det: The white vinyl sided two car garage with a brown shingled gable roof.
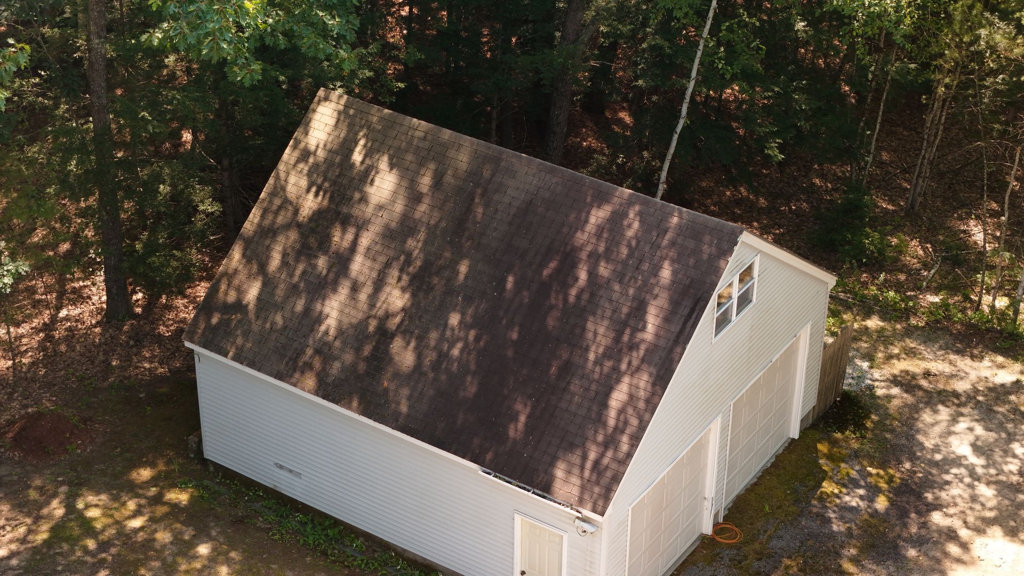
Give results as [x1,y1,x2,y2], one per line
[181,86,838,576]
